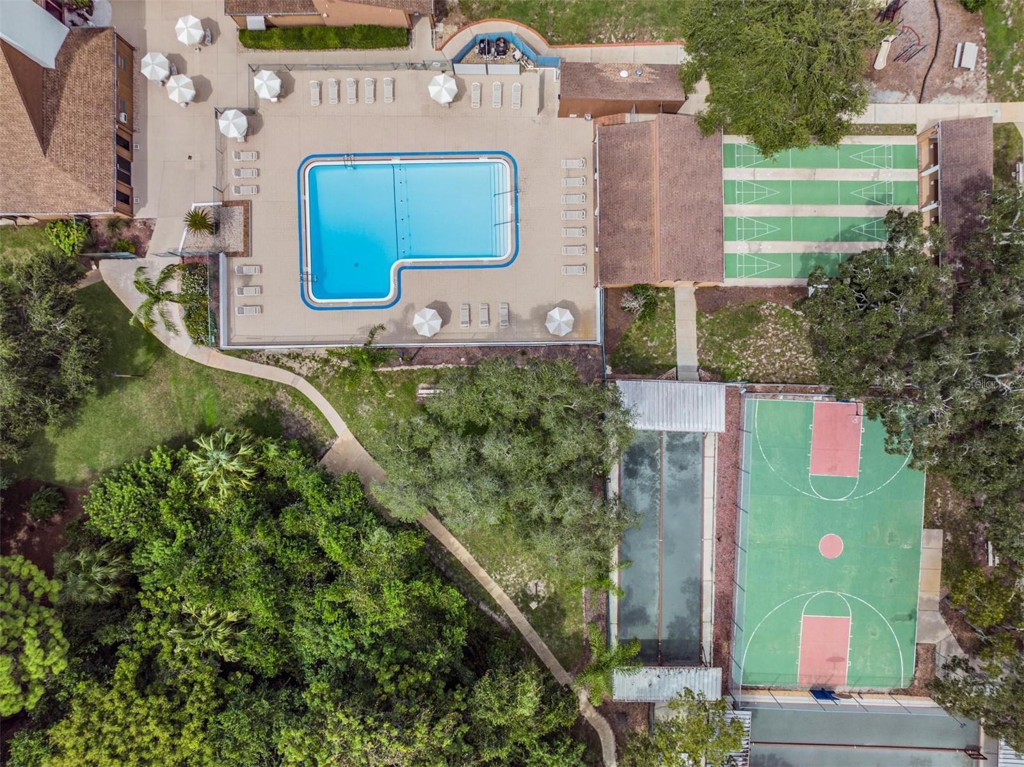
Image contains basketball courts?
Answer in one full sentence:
Yes, I can see a basketball court in this picture.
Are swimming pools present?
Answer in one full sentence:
Yes, the photo shows a swimming pool.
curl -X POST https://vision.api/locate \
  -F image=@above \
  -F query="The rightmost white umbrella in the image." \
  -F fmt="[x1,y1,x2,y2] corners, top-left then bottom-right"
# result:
[544,307,574,337]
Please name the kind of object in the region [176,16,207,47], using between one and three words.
umbrella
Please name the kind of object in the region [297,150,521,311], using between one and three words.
swimming pool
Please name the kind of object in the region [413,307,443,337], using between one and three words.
umbrella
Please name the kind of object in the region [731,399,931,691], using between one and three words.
basketball court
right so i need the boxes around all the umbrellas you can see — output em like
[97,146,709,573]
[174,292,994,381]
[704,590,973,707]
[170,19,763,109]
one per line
[253,70,283,101]
[544,307,574,337]
[176,16,207,47]
[142,53,173,84]
[413,307,443,337]
[219,110,249,140]
[167,75,198,105]
[428,75,458,105]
